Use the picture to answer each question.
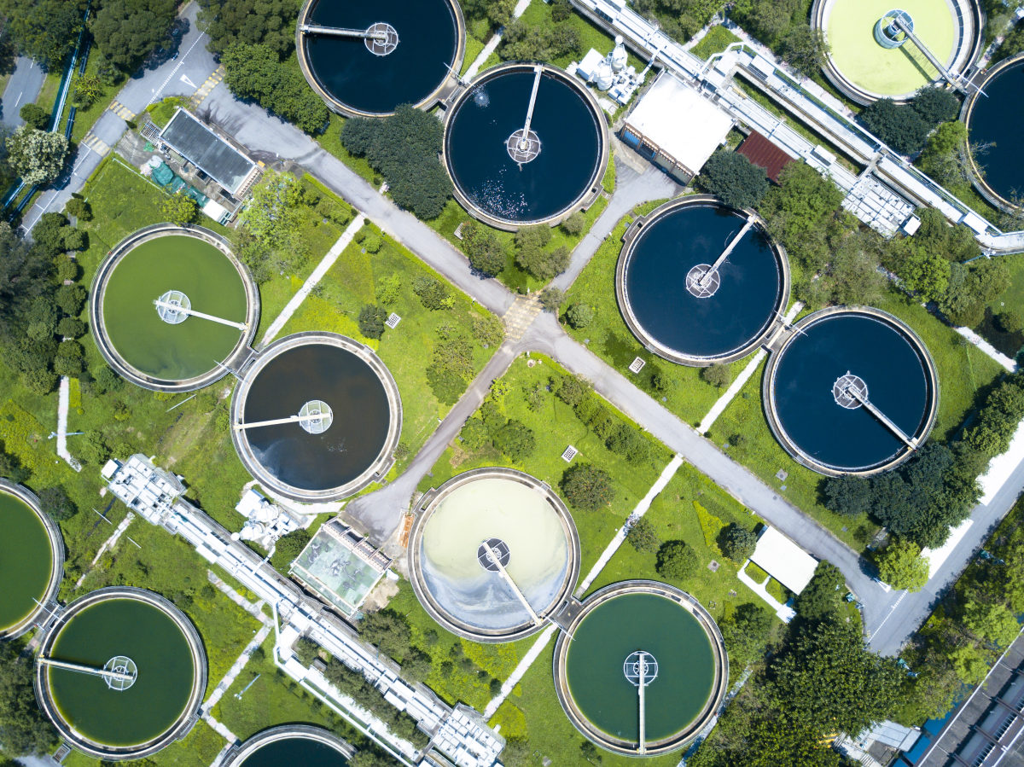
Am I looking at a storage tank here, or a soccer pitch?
storage tank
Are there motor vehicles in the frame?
Yes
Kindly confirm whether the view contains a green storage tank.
Yes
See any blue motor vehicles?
No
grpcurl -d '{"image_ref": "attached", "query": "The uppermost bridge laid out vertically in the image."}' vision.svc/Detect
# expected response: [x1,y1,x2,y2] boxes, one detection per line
[522,60,547,150]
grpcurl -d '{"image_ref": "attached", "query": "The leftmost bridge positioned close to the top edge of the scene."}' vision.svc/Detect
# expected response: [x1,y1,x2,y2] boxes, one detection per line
[296,21,385,38]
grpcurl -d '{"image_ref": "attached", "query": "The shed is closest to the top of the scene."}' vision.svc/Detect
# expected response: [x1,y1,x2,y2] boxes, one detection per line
[577,48,604,82]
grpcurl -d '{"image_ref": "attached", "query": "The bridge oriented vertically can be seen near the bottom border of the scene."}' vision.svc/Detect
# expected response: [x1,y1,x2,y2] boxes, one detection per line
[633,657,650,757]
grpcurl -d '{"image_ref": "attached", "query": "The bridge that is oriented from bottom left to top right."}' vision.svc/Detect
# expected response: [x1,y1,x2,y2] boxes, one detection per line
[699,212,762,284]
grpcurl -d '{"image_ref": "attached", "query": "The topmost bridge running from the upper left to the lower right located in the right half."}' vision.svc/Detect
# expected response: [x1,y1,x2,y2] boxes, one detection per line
[895,13,961,86]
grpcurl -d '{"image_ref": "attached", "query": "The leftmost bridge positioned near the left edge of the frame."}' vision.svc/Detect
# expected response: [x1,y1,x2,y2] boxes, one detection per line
[32,650,134,684]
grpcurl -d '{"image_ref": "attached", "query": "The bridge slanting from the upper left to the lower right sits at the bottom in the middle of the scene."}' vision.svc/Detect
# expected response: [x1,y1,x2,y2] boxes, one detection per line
[483,543,547,627]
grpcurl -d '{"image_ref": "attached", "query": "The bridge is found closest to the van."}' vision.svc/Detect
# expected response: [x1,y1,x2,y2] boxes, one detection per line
[152,300,254,336]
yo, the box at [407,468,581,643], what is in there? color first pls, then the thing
white storage tank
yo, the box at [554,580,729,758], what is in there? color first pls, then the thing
green storage tank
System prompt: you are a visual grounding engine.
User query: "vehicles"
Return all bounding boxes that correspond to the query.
[197,195,232,226]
